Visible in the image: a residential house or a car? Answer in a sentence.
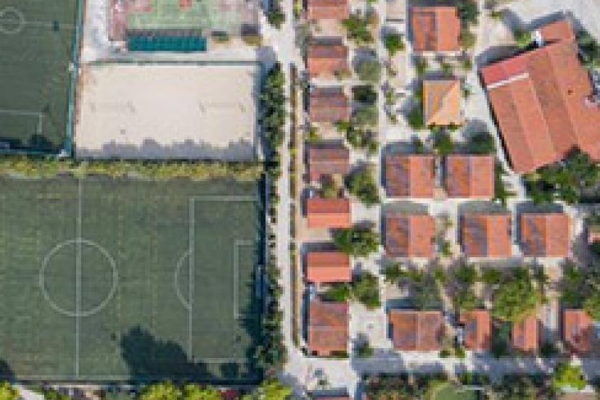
I can see a residential house in this picture.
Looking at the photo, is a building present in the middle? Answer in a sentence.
Yes, a building can be seen in the middle.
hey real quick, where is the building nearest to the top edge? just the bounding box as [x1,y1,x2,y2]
[306,0,349,19]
